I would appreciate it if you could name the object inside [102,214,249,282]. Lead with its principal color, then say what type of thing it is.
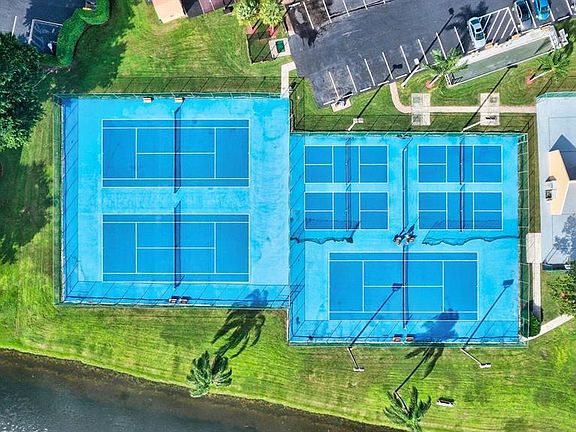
blue tennis court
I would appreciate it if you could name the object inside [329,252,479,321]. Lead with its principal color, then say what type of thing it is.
blue tennis court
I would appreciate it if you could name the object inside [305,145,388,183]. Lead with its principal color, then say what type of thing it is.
blue sports court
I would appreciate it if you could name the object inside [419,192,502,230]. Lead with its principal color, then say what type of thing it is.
blue sports court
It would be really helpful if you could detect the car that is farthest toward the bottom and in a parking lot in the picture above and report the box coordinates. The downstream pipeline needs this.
[467,18,486,51]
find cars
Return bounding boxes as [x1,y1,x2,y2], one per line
[467,18,486,51]
[530,0,549,22]
[509,0,529,28]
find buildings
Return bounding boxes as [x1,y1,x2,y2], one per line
[550,147,576,215]
[151,0,186,22]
